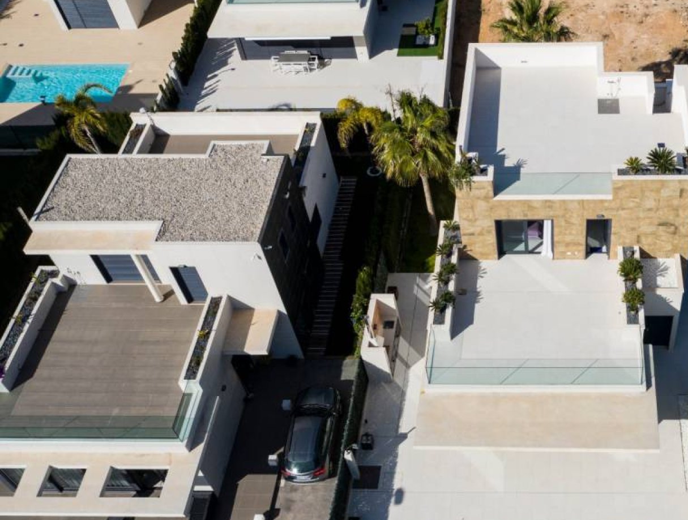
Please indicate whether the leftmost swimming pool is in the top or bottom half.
top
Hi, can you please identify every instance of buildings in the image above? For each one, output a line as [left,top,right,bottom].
[209,0,391,60]
[44,0,152,29]
[413,42,688,453]
[0,112,341,520]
